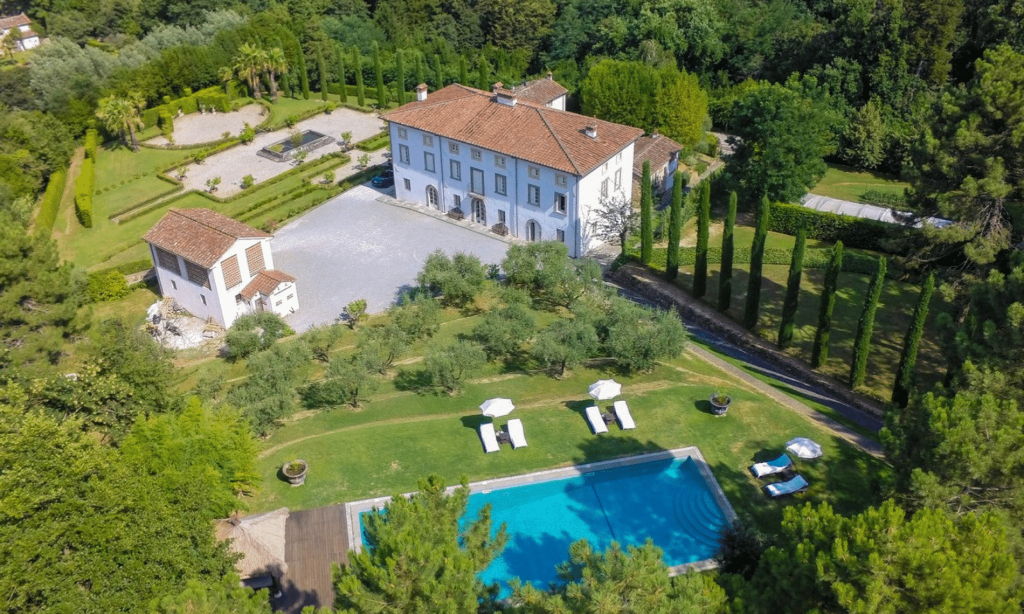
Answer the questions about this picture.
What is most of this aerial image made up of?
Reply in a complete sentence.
The largest share of the image is taken up by trees.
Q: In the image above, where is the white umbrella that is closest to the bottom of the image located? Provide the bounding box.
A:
[785,439,823,478]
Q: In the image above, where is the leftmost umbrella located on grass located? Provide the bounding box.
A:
[479,399,515,435]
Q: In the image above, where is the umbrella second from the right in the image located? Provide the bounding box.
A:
[588,382,621,404]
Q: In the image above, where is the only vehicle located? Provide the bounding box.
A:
[379,168,396,188]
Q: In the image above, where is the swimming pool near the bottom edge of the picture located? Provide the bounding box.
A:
[345,447,755,614]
